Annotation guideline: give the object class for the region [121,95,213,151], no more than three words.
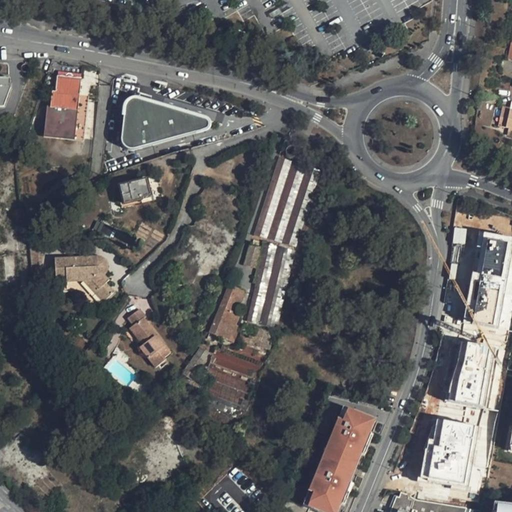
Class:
building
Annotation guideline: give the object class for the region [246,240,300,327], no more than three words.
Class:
building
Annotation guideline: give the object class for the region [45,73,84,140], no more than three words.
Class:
house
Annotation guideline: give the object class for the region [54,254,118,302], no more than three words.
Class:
house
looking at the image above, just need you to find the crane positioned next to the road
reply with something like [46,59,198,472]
[419,210,494,368]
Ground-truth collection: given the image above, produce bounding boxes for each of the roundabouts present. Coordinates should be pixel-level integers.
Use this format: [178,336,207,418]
[362,95,441,174]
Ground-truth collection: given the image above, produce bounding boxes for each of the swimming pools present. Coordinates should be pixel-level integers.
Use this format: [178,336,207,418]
[106,348,142,390]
